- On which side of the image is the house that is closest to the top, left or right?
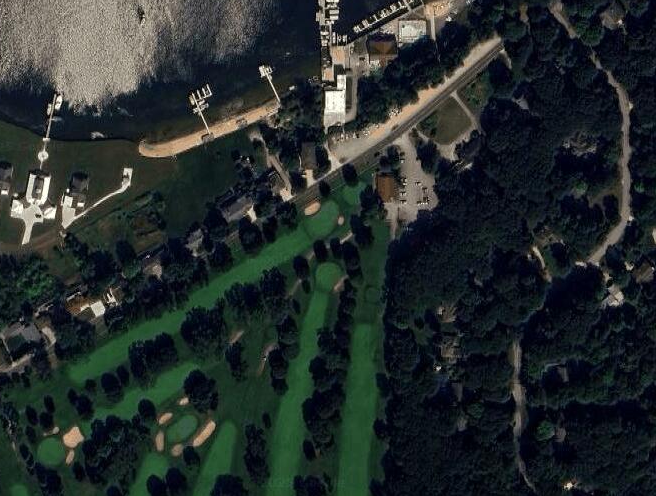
right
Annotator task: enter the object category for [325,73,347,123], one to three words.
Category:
building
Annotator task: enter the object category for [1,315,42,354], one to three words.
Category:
house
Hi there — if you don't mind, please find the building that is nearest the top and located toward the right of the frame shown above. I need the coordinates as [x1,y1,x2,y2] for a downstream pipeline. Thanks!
[599,3,626,27]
